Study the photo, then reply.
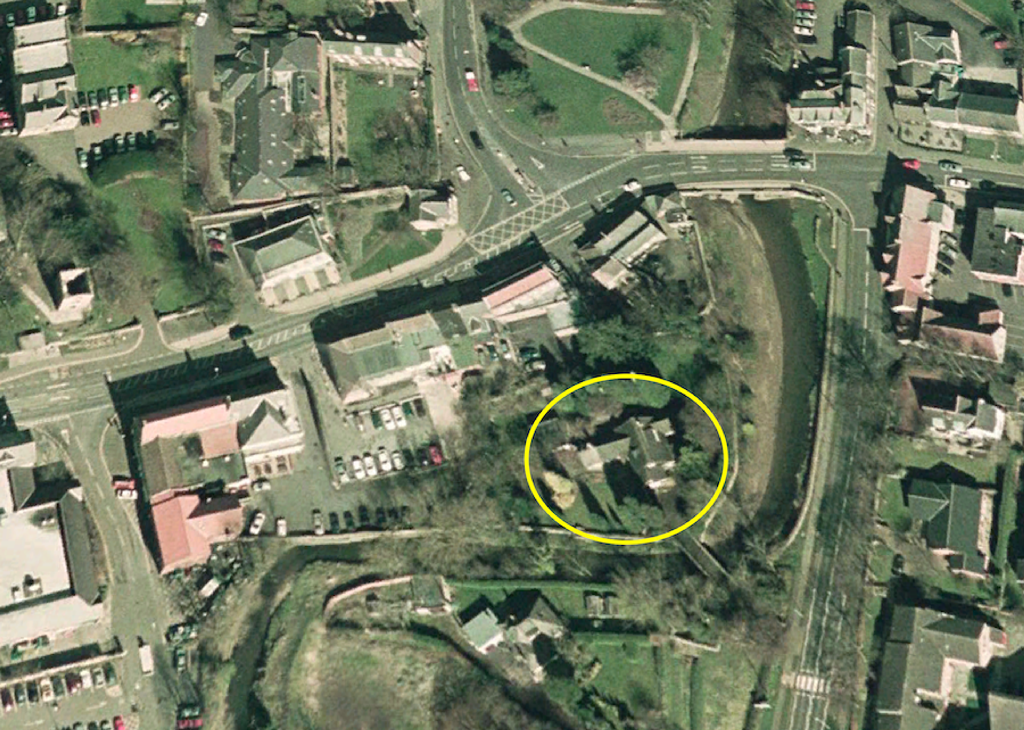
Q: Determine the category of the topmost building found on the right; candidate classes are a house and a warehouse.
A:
house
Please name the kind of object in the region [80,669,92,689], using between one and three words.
vehicle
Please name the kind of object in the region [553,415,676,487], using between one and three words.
house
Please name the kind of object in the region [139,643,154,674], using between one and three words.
vehicle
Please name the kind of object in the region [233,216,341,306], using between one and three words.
building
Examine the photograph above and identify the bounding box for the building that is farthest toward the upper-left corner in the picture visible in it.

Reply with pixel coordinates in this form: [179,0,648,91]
[12,11,82,133]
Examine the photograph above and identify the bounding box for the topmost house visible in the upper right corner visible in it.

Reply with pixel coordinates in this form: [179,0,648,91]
[893,18,961,92]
